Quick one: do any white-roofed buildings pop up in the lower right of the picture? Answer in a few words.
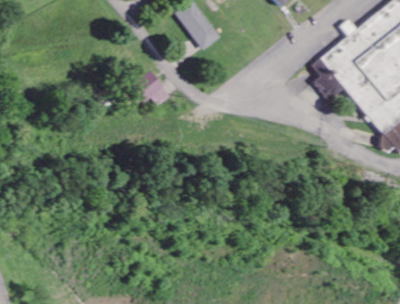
No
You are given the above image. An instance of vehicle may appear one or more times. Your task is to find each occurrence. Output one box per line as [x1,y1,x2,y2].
[286,32,296,45]
[308,14,318,28]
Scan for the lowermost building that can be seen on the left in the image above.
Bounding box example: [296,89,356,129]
[144,80,170,106]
